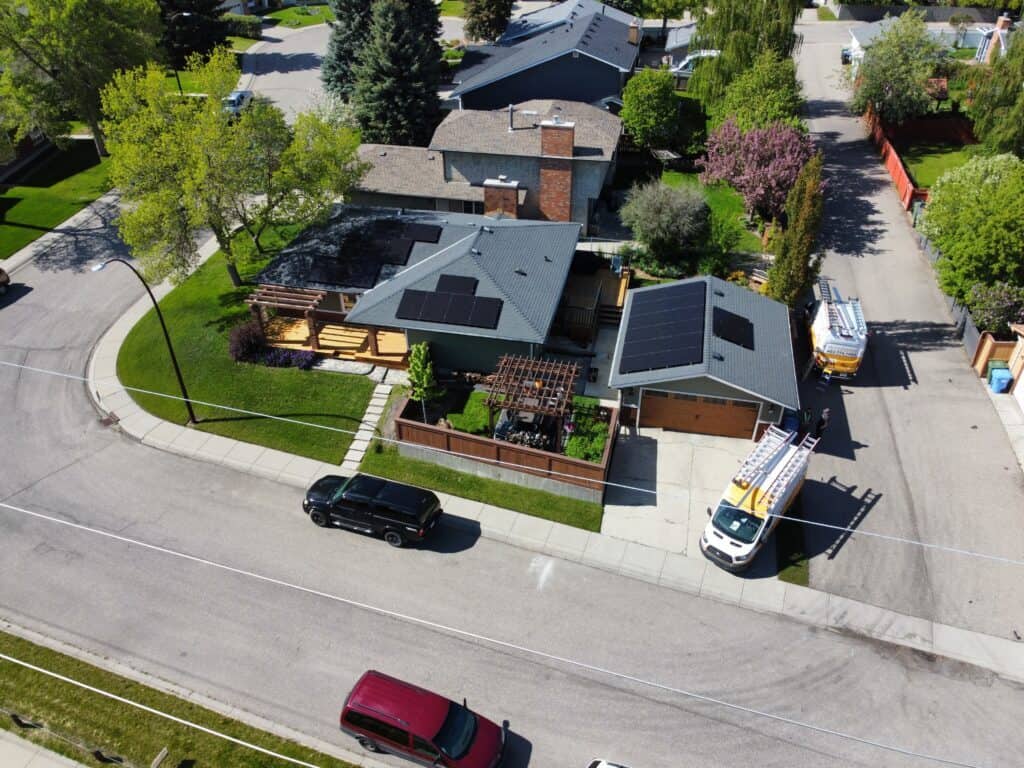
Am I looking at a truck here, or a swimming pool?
truck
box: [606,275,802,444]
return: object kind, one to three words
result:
building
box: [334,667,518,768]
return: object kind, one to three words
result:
car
